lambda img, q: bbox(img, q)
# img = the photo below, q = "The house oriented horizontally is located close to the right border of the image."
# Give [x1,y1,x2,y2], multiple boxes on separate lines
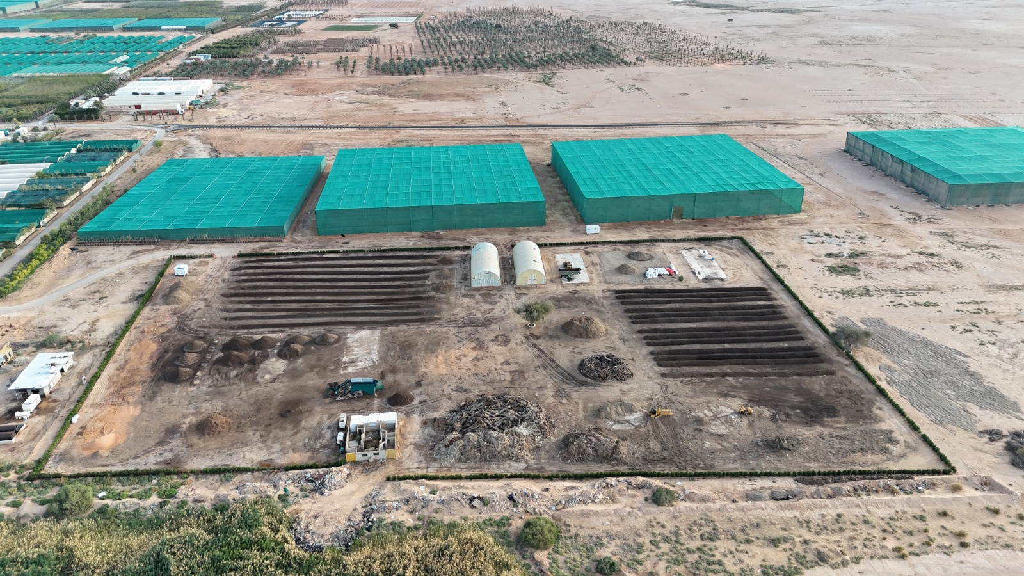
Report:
[841,125,1024,204]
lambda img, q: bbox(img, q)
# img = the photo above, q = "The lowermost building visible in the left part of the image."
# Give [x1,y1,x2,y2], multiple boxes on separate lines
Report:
[344,409,400,463]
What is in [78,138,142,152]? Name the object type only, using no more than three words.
greenhouse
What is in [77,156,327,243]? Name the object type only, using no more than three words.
house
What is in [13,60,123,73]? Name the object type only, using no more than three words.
building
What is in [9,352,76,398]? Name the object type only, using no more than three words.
shed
